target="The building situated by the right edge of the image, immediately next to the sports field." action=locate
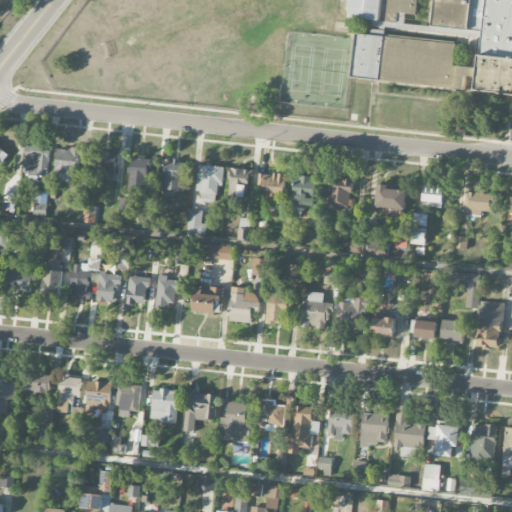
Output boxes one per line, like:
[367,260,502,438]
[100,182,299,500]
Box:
[346,0,512,95]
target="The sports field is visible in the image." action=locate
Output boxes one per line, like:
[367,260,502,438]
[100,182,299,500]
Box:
[46,0,346,114]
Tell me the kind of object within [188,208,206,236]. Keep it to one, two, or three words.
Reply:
building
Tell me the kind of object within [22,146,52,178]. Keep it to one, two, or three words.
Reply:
house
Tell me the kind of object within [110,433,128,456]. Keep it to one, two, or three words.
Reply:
building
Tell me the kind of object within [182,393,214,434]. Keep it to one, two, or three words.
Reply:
house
